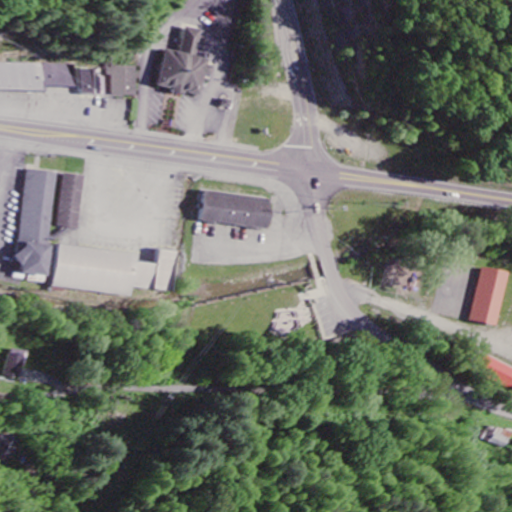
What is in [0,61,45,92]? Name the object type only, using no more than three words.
building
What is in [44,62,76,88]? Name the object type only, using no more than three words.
building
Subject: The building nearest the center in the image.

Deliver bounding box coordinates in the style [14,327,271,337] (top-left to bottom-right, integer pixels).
[198,191,271,229]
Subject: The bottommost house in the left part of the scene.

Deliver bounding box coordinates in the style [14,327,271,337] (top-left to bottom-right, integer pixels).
[2,351,27,380]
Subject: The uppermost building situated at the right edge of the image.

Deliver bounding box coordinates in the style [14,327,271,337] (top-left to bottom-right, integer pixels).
[468,268,510,325]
